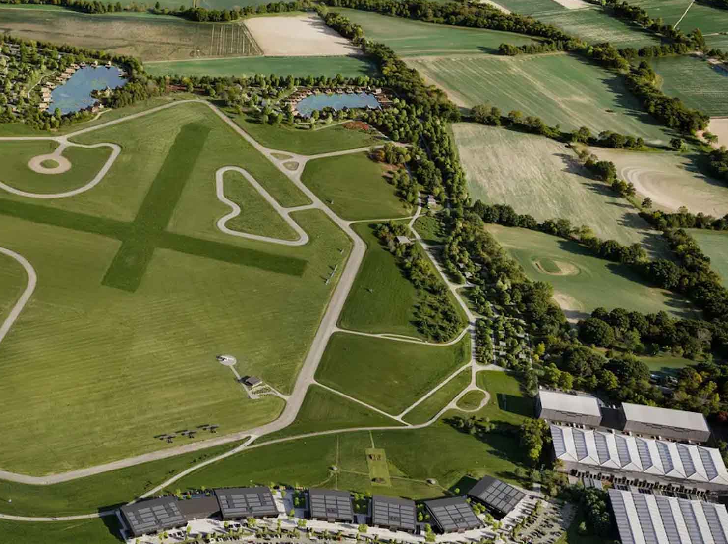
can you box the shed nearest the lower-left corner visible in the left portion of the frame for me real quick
[120,496,187,543]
